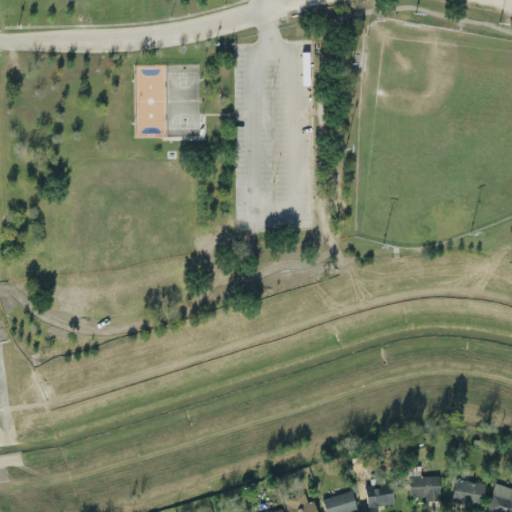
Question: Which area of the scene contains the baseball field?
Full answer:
The baseball field is in the top right part of the image.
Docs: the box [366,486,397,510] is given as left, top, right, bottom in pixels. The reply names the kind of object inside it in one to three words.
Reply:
house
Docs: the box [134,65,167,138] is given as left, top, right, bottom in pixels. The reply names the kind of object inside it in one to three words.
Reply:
sports court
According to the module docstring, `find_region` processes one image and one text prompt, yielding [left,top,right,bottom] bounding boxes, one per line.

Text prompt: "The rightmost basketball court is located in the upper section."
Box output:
[167,65,200,138]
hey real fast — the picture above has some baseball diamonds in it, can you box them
[358,24,512,245]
